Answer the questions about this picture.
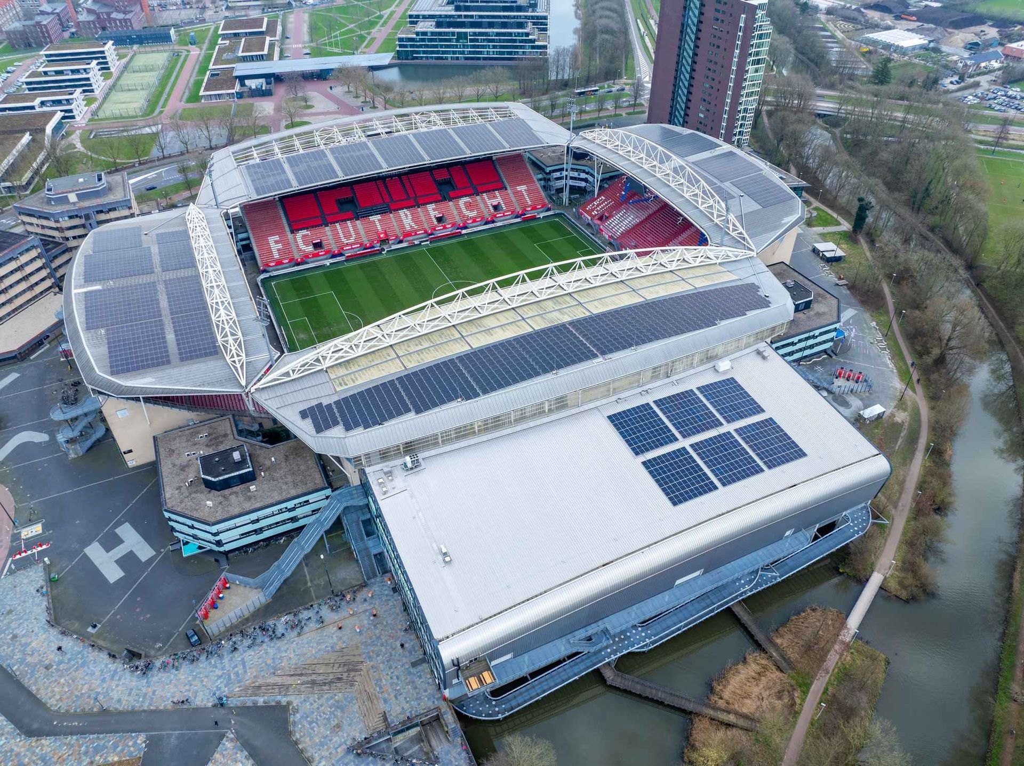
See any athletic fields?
Yes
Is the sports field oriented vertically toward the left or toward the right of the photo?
right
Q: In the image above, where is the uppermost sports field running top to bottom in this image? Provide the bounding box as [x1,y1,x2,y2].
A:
[976,144,1024,279]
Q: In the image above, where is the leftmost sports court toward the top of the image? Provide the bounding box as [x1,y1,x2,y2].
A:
[98,51,172,117]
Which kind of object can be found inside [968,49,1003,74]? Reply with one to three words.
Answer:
house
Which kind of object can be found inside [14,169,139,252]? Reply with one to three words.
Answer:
building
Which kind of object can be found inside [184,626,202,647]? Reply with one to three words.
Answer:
car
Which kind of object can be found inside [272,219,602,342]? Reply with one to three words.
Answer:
sports field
